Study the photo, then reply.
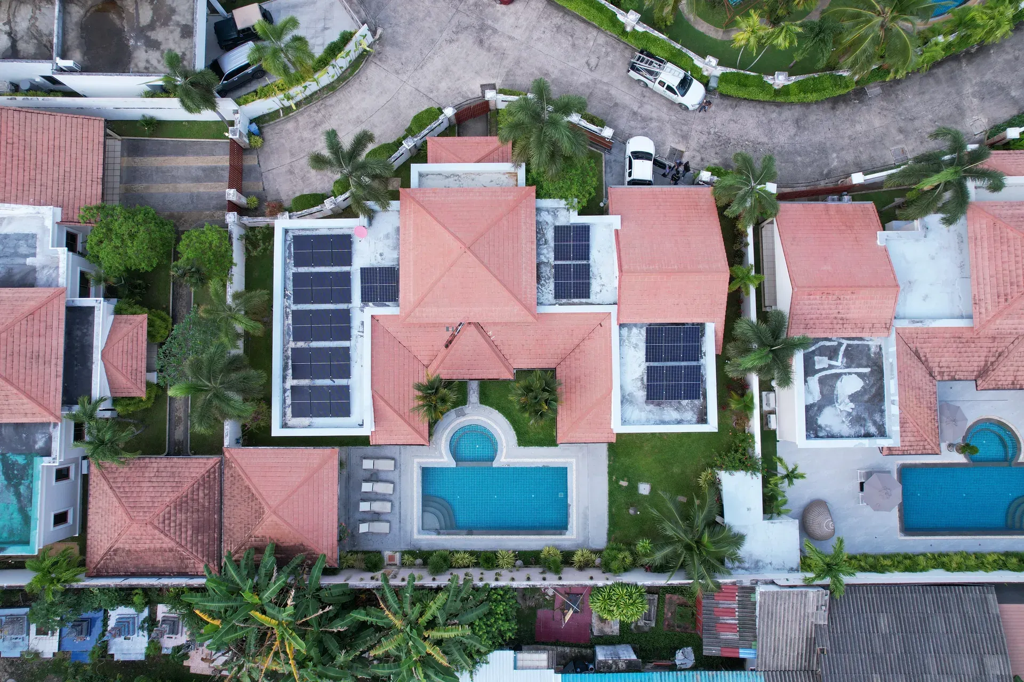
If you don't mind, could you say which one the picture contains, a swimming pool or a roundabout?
swimming pool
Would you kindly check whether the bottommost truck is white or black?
white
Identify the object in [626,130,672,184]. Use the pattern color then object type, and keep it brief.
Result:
white truck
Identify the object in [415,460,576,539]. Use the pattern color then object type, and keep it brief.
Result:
blue swimming pool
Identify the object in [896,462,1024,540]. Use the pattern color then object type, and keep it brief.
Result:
blue swimming pool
